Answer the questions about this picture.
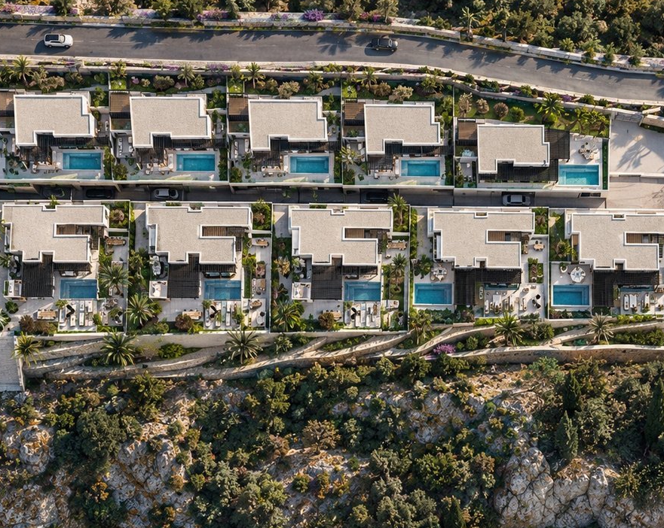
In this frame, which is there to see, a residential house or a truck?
residential house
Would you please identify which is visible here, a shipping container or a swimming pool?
swimming pool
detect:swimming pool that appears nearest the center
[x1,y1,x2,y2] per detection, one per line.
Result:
[347,280,387,303]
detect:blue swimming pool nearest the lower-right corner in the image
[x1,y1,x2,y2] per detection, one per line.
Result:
[551,283,592,308]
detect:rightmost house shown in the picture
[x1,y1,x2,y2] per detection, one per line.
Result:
[567,212,664,313]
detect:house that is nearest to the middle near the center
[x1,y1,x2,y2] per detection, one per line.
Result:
[287,205,397,307]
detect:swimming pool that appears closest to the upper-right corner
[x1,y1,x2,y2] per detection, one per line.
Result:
[556,163,602,186]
